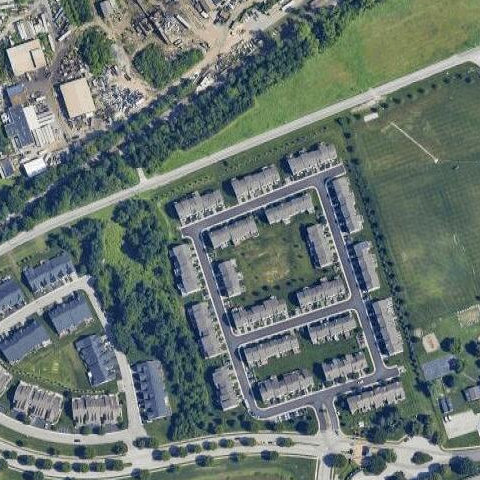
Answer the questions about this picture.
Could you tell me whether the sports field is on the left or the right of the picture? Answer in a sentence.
The sports field appears in the right half of the scene.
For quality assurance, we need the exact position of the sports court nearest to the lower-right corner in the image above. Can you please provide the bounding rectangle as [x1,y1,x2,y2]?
[422,354,455,381]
